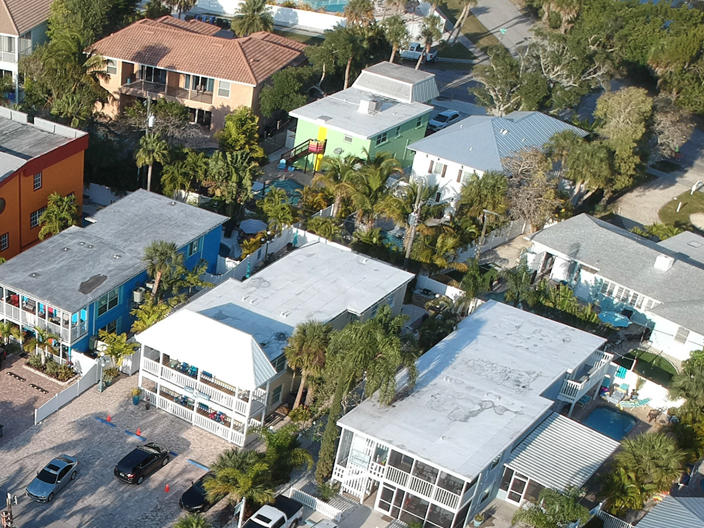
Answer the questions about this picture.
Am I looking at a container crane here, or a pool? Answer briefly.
pool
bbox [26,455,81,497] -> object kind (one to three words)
car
